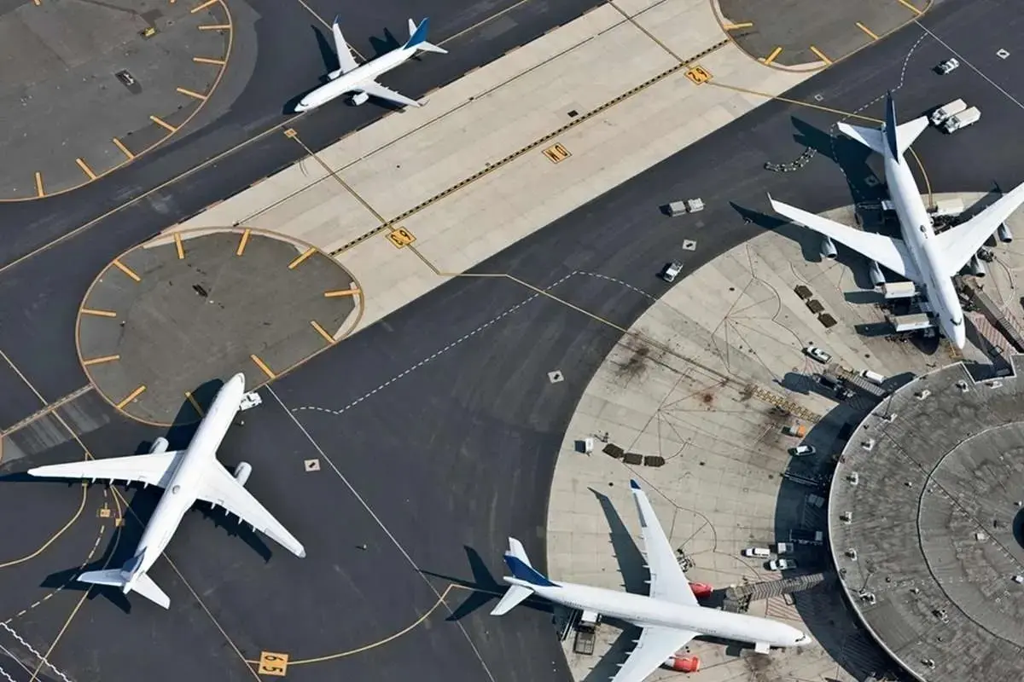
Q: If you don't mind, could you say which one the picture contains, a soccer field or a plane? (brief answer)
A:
plane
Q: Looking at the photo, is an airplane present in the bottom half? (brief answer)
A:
Yes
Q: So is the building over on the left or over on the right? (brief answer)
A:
right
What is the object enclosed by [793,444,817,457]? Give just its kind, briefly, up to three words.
vehicle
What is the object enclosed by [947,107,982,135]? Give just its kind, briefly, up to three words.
truck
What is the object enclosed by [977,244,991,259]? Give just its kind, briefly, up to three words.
work vehicle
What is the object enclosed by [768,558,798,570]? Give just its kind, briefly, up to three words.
vehicle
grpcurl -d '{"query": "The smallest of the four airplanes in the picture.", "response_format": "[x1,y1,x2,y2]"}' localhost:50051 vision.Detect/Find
[295,13,445,115]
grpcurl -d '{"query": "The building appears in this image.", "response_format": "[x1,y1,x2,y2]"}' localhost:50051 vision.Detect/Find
[823,353,1024,682]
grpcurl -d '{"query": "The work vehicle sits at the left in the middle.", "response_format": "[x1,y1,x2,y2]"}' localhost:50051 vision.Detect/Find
[240,390,264,411]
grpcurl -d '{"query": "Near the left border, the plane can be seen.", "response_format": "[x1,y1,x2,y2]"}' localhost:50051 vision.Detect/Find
[29,375,303,609]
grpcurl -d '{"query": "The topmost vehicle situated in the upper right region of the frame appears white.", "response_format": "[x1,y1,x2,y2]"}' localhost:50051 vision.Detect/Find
[941,59,961,72]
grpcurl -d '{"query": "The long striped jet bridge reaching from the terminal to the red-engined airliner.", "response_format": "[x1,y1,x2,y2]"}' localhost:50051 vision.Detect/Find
[723,573,838,614]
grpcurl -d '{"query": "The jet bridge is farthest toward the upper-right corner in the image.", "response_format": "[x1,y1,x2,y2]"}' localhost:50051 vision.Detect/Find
[950,276,1024,353]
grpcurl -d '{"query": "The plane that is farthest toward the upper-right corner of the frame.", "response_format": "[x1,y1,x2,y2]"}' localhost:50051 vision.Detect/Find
[768,89,1024,352]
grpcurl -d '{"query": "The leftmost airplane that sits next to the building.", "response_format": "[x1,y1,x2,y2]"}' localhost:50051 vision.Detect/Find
[490,478,811,682]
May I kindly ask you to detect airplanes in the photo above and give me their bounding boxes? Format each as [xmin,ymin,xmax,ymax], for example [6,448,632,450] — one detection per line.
[490,478,811,682]
[768,89,1024,352]
[29,375,303,609]
[295,13,445,115]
